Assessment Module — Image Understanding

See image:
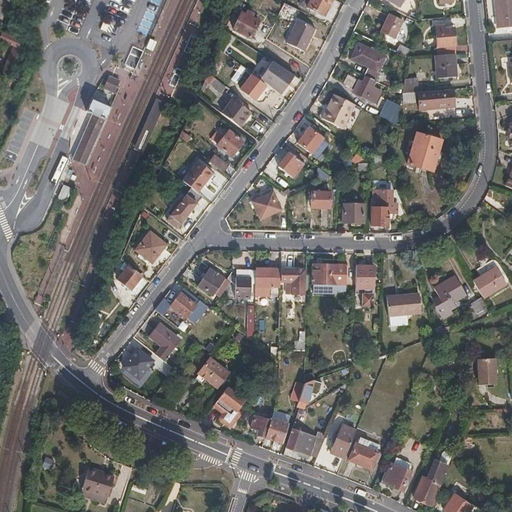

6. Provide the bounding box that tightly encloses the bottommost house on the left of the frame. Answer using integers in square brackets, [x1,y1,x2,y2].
[82,468,116,506]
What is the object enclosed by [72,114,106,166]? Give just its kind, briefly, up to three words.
building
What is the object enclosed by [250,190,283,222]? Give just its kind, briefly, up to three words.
house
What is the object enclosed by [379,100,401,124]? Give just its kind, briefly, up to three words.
shed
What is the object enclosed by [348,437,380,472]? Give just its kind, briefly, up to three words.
house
